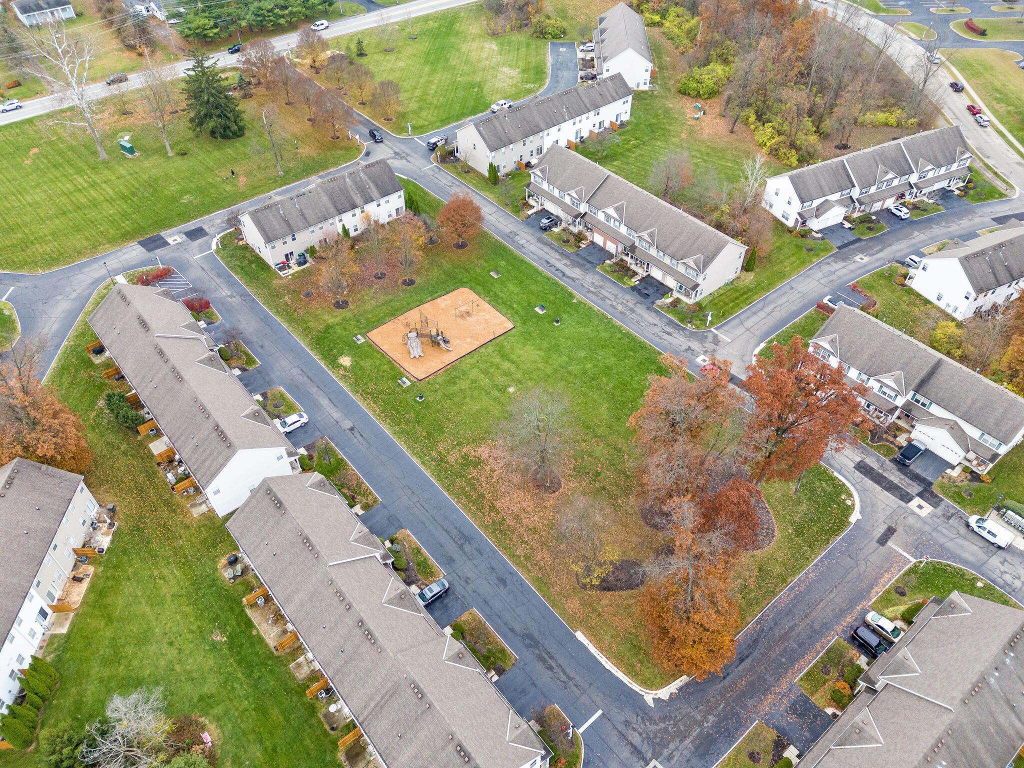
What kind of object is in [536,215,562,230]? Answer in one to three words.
car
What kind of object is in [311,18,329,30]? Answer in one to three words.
vehicle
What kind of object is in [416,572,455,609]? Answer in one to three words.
car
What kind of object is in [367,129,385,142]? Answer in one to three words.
vehicle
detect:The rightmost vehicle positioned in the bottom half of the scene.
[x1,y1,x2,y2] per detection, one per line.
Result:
[963,513,1023,550]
